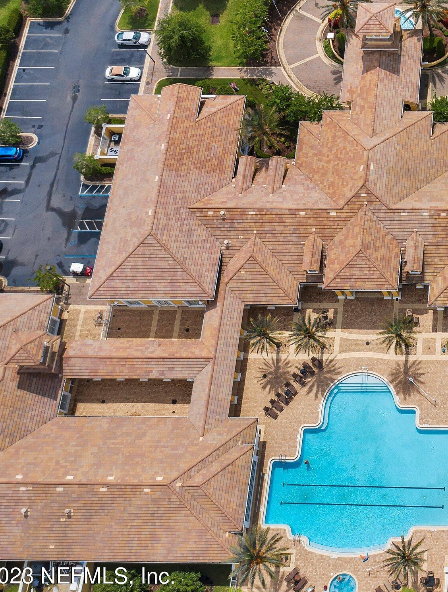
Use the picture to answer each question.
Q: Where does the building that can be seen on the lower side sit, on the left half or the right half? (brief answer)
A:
left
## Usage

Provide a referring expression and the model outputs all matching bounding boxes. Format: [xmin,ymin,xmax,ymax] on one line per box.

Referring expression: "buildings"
[87,2,448,312]
[0,294,265,564]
